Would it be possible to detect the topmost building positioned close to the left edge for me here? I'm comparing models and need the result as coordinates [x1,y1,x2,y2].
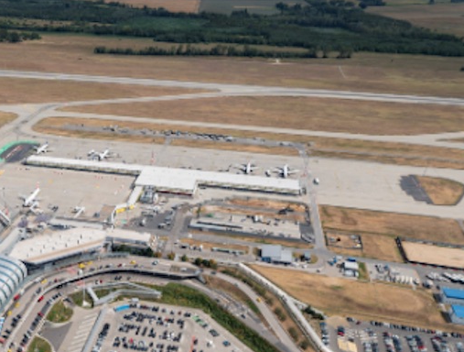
[0,218,151,276]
